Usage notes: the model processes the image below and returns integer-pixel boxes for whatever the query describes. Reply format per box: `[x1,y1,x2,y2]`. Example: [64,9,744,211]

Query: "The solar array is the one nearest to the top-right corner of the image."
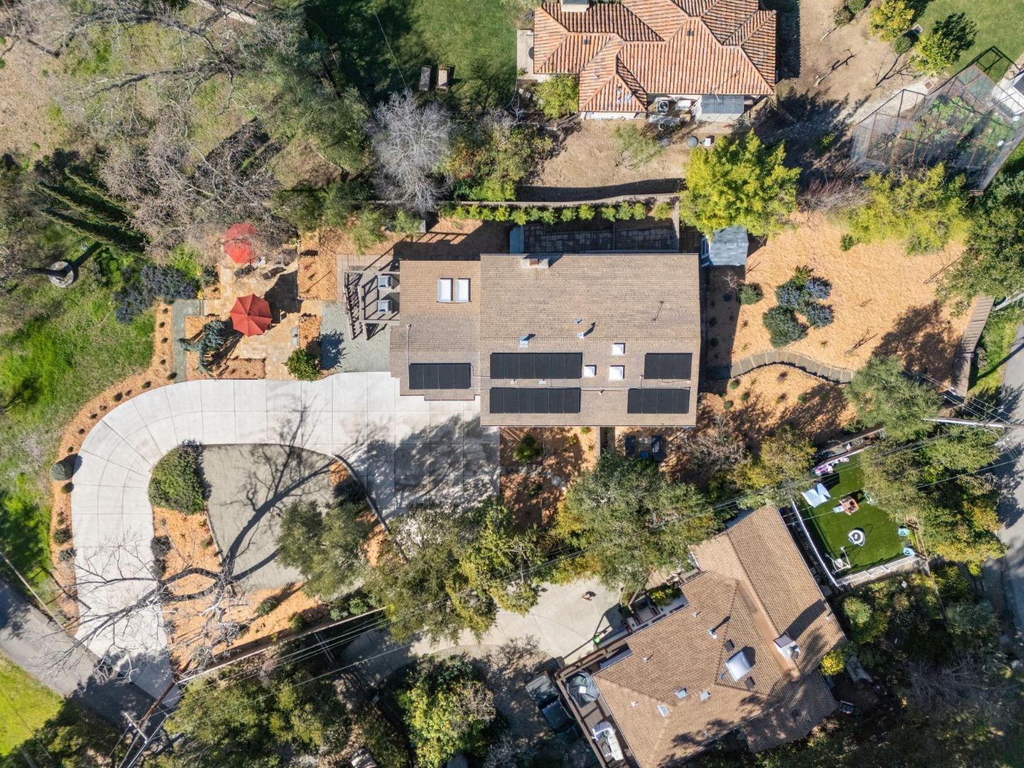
[645,353,692,380]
